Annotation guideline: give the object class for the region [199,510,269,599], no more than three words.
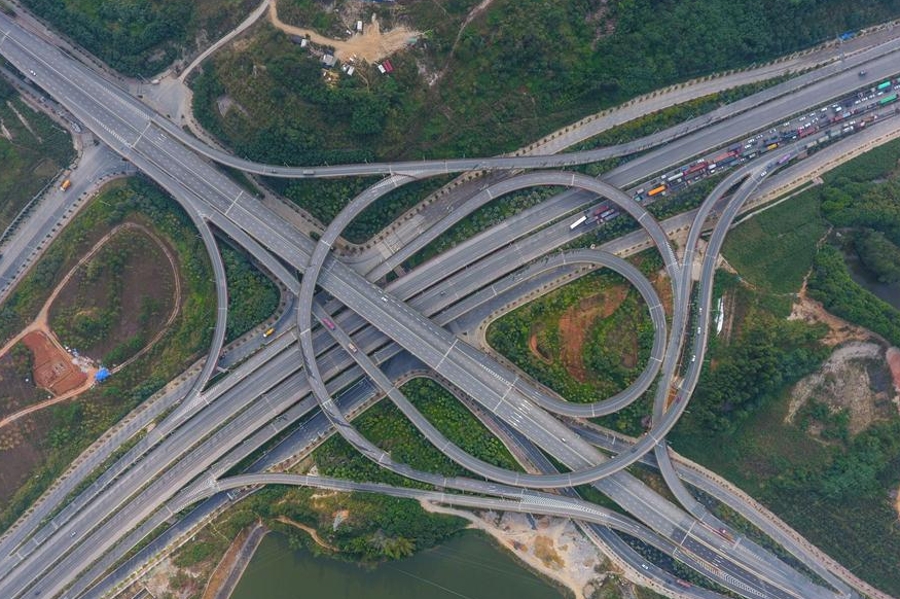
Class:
dam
